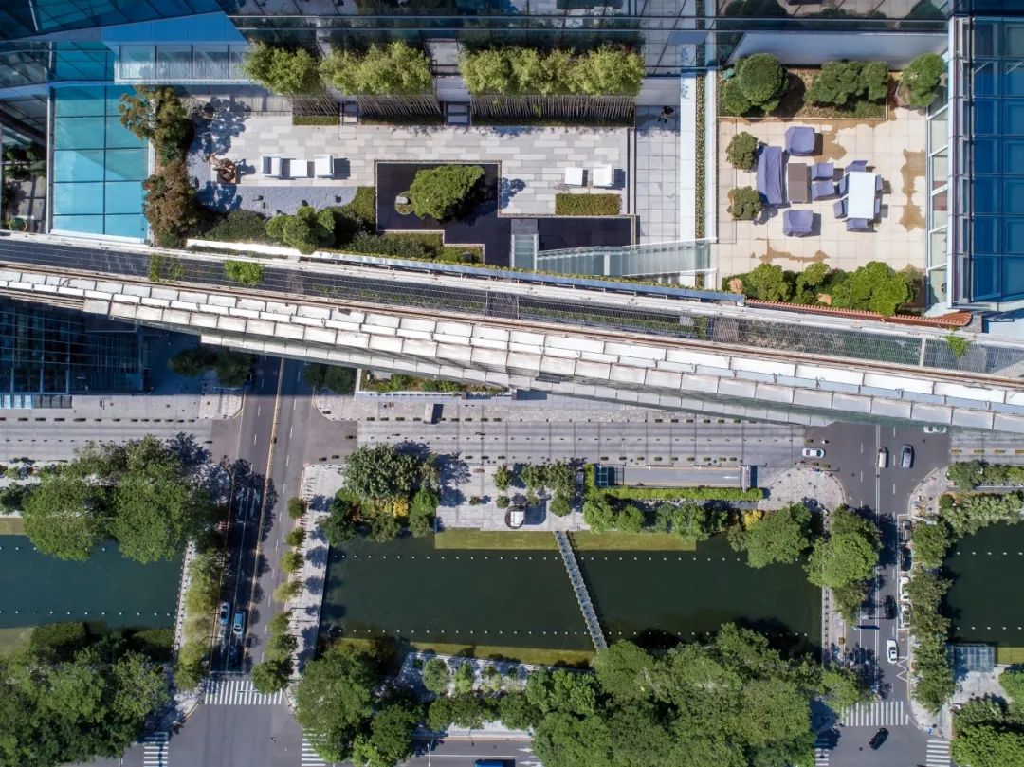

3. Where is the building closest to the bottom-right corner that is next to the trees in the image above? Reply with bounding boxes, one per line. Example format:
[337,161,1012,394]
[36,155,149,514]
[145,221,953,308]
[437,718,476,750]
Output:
[944,638,994,671]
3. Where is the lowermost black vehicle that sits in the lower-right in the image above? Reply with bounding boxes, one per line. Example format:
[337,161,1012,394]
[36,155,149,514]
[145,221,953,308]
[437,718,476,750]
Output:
[869,727,888,750]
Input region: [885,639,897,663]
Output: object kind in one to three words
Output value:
vehicle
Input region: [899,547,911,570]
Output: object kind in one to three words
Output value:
vehicle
